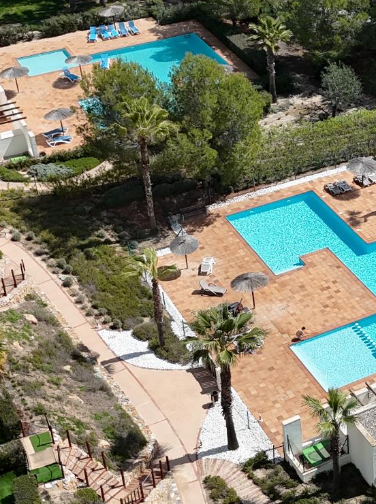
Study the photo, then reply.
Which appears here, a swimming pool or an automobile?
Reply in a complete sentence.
The image shows a swimming pool.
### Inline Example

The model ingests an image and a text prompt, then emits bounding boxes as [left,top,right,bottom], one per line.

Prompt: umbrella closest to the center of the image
[166,230,200,268]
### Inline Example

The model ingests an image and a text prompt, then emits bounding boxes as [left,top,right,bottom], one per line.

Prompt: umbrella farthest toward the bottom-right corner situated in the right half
[231,263,272,309]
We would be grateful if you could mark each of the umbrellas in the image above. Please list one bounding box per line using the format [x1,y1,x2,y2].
[96,2,125,20]
[231,263,272,309]
[62,50,92,78]
[0,63,28,91]
[346,154,376,188]
[42,103,71,130]
[166,230,200,268]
